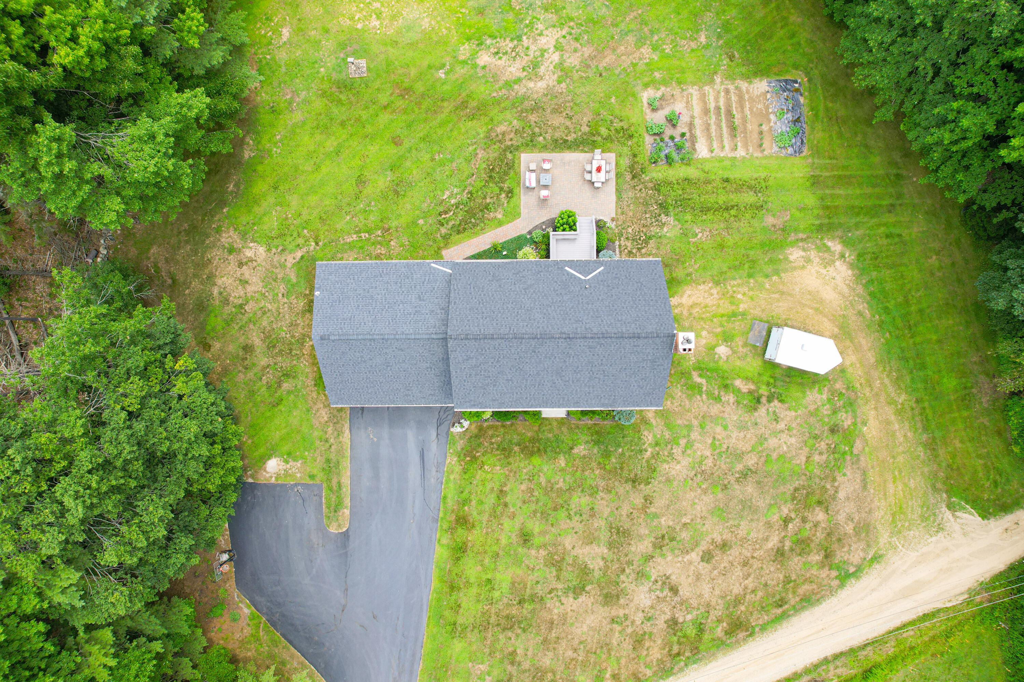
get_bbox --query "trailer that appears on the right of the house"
[763,326,844,375]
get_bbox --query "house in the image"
[311,257,694,411]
